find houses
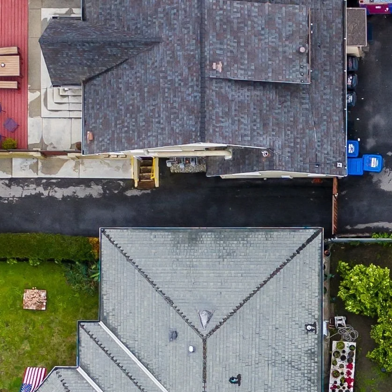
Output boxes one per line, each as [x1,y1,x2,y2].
[38,0,350,179]
[32,225,327,392]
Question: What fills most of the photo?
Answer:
buildings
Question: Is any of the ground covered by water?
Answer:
No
